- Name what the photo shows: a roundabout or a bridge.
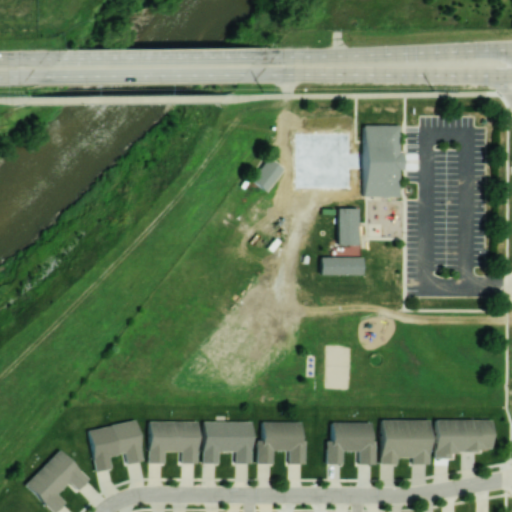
bridge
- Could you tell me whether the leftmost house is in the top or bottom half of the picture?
bottom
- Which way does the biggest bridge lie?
from left to right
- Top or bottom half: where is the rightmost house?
bottom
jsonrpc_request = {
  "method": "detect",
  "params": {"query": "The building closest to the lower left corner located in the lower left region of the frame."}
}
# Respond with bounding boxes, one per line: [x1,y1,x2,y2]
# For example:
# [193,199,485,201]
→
[25,450,90,512]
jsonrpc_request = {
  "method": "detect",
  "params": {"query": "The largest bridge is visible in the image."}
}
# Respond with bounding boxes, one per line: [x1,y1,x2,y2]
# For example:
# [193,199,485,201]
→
[38,48,246,86]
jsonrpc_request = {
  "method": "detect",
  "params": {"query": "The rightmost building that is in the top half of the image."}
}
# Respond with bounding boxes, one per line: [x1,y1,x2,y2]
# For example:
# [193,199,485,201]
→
[363,126,420,196]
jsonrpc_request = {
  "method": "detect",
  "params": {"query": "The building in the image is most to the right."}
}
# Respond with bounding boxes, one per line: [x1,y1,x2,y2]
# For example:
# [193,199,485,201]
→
[433,420,496,459]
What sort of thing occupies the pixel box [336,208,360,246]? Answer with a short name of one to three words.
shed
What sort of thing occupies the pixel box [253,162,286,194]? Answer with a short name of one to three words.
house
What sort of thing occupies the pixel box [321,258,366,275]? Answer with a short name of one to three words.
shed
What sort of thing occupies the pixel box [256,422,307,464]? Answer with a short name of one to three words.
house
